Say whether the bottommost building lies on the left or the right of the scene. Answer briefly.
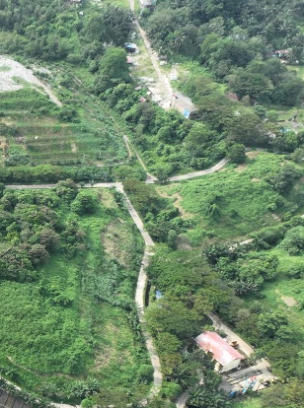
right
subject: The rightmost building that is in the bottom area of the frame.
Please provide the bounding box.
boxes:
[189,336,242,378]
